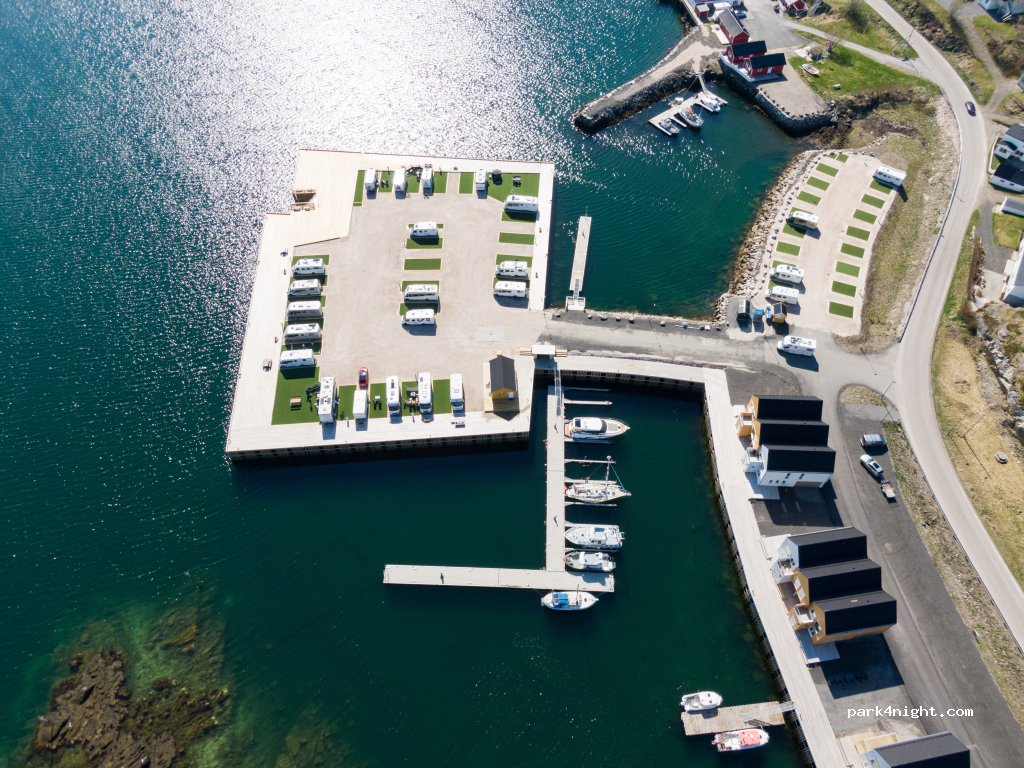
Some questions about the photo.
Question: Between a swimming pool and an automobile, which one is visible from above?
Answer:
automobile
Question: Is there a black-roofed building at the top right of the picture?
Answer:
Yes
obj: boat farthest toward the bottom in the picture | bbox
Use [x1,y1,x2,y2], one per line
[712,730,770,754]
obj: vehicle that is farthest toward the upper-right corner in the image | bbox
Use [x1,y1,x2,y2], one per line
[963,101,979,115]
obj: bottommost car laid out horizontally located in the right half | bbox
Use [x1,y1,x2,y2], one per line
[859,434,889,448]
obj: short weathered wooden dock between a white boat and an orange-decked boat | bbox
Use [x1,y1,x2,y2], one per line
[681,701,784,735]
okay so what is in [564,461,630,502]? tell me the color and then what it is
white boat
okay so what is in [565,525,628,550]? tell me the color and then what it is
white boat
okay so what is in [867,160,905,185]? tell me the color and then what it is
white camper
